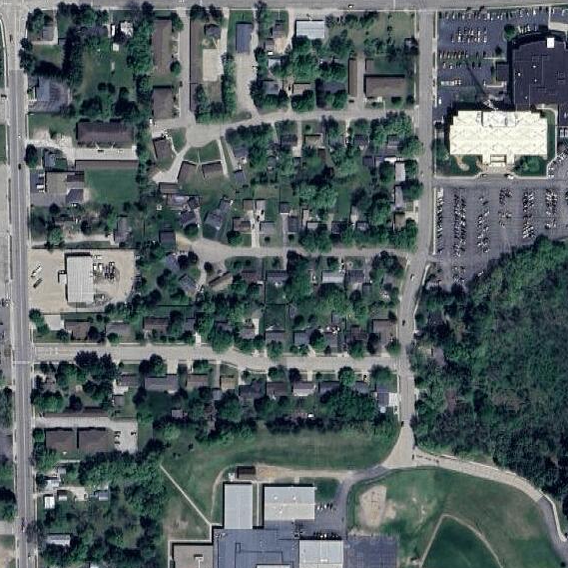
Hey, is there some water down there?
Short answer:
No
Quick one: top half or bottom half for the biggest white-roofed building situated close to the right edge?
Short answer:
top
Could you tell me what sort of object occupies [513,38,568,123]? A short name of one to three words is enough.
building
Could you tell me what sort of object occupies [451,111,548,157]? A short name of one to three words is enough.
building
